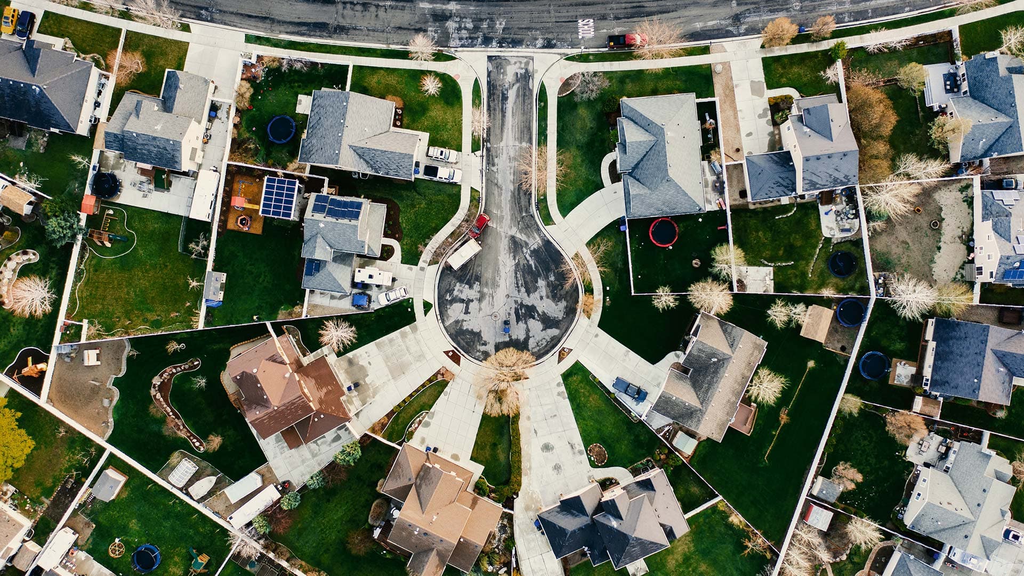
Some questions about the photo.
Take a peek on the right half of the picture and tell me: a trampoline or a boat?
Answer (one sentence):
It is a trampoline that can be seen on the right half of the picture.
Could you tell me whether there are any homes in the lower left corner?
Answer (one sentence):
Yes, you'll find a home in the lower left corner.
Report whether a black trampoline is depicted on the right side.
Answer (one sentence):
Yes, a black trampoline appears on the right side.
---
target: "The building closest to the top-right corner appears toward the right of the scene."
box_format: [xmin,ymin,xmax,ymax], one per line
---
[934,53,1024,164]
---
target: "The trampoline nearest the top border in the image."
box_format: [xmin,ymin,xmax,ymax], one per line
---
[267,115,296,144]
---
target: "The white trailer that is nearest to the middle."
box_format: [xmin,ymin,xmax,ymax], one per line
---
[445,237,486,272]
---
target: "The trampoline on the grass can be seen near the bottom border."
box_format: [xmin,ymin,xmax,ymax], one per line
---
[126,543,162,576]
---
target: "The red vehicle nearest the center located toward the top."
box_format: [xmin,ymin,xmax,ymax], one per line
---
[469,212,491,240]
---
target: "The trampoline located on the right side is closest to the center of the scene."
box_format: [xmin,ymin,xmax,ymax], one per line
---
[648,217,679,247]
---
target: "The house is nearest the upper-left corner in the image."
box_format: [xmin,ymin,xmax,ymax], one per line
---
[0,38,102,134]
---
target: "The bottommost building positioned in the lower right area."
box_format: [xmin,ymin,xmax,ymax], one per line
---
[879,548,948,576]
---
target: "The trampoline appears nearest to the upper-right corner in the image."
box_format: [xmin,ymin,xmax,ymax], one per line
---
[828,249,863,279]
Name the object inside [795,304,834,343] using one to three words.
shed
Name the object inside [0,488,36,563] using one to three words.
house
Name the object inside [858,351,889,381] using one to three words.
trampoline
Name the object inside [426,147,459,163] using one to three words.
car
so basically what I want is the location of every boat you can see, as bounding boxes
[186,478,217,502]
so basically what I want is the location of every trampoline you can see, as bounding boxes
[828,249,863,279]
[126,543,162,576]
[267,115,296,144]
[858,351,889,381]
[834,298,866,328]
[648,217,679,247]
[84,168,123,200]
